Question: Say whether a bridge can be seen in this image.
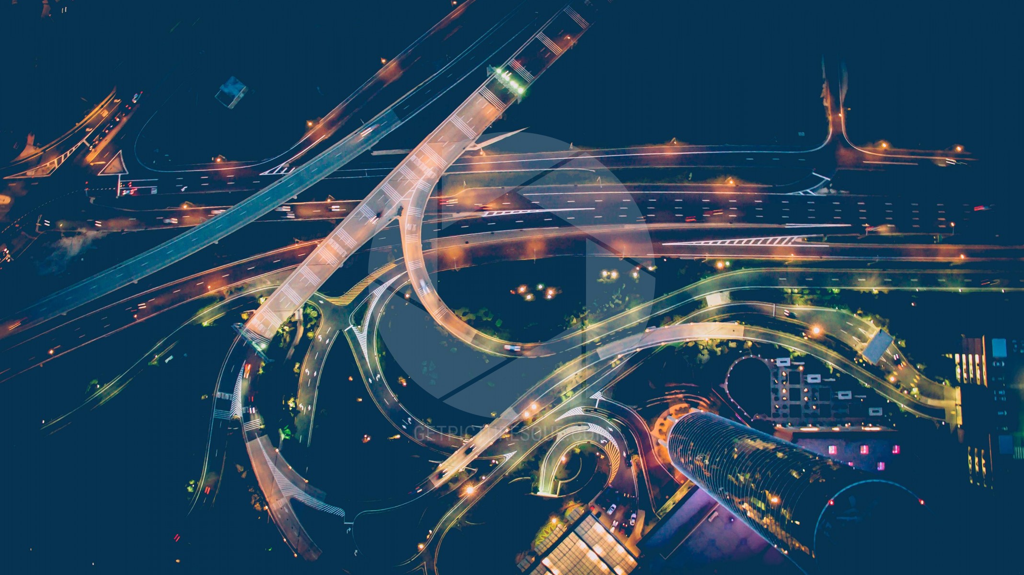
Yes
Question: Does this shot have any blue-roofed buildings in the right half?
Yes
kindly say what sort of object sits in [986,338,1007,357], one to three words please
building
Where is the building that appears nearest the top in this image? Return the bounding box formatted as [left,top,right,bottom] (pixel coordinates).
[215,76,252,112]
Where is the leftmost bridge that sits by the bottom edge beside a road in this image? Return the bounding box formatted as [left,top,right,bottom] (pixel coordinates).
[245,433,338,560]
